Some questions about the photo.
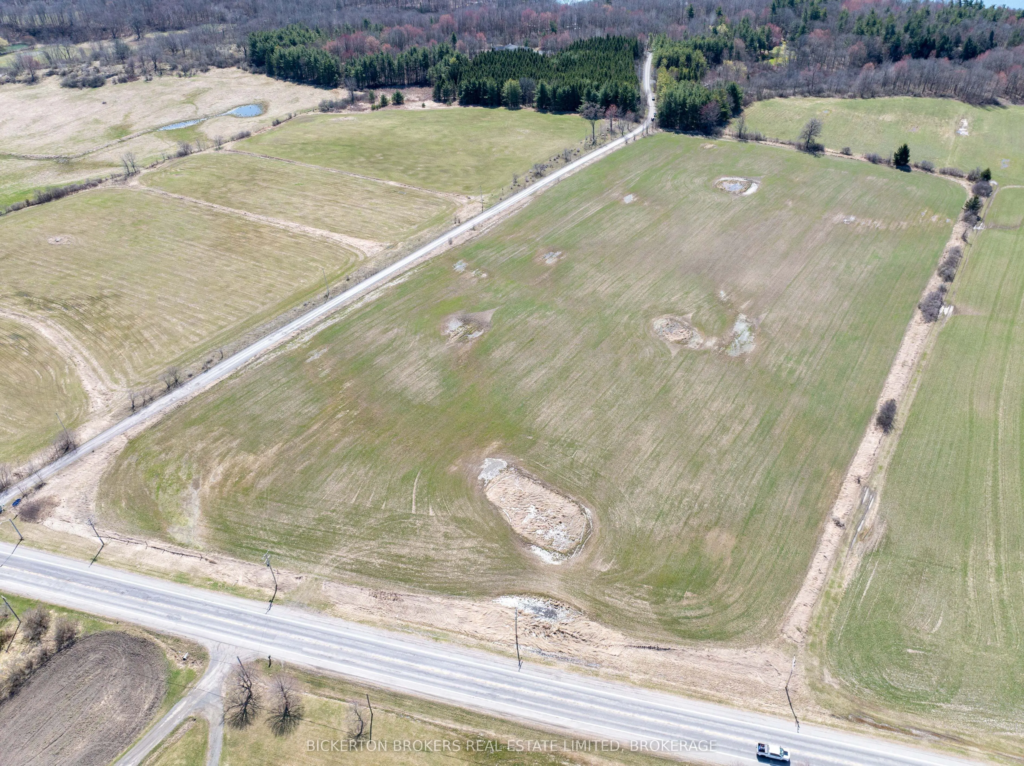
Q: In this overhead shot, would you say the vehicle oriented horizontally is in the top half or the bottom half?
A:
bottom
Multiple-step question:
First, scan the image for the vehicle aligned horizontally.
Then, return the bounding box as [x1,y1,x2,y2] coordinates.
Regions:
[756,744,793,764]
